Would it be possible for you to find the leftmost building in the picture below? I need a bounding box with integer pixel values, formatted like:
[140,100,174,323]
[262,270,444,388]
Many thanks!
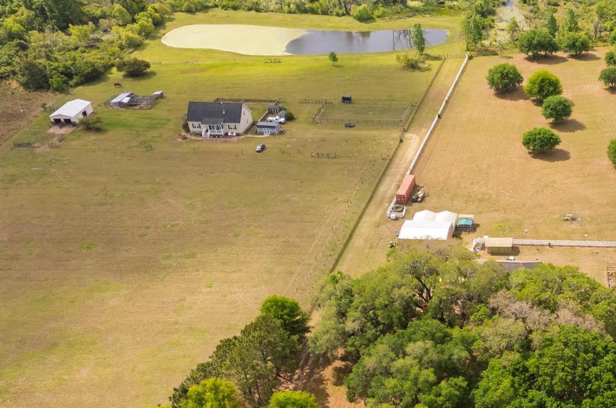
[49,99,102,127]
